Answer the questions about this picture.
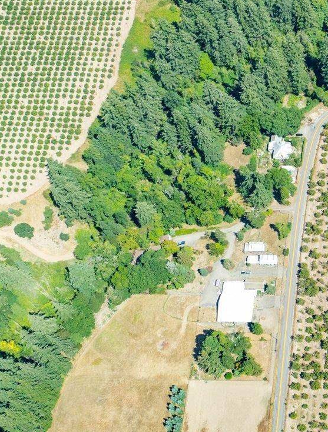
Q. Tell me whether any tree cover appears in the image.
Yes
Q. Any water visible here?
No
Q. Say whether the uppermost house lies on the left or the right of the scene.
right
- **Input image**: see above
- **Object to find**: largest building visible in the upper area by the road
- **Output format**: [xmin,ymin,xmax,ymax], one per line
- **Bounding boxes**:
[264,134,297,164]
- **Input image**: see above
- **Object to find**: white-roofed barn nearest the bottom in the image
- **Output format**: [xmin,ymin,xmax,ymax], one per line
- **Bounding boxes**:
[215,281,268,327]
